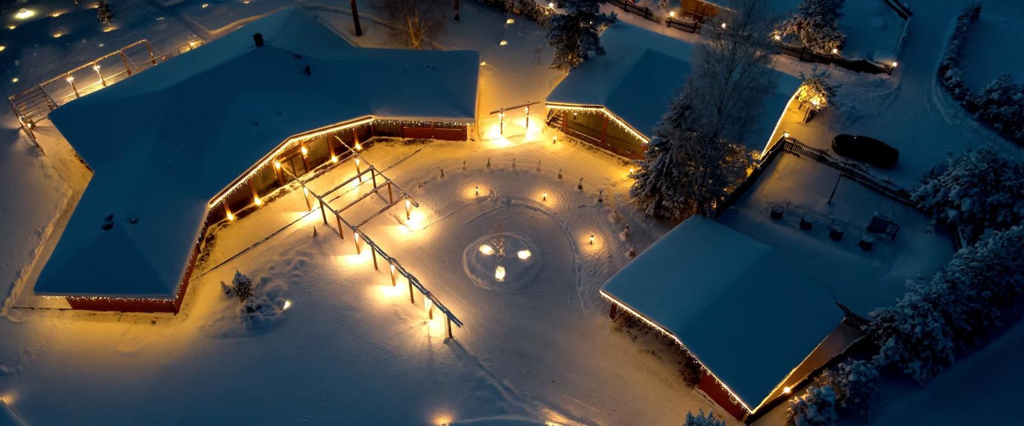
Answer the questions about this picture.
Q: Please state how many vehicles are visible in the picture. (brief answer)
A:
1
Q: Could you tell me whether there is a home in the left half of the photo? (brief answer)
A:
Yes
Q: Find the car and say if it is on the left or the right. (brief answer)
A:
right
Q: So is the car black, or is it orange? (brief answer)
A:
black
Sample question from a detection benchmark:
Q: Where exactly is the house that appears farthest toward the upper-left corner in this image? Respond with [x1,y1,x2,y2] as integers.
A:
[36,8,479,312]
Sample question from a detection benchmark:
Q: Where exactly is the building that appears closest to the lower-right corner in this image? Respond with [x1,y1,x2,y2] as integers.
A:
[599,217,844,423]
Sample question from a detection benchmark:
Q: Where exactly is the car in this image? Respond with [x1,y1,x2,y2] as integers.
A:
[834,135,905,173]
